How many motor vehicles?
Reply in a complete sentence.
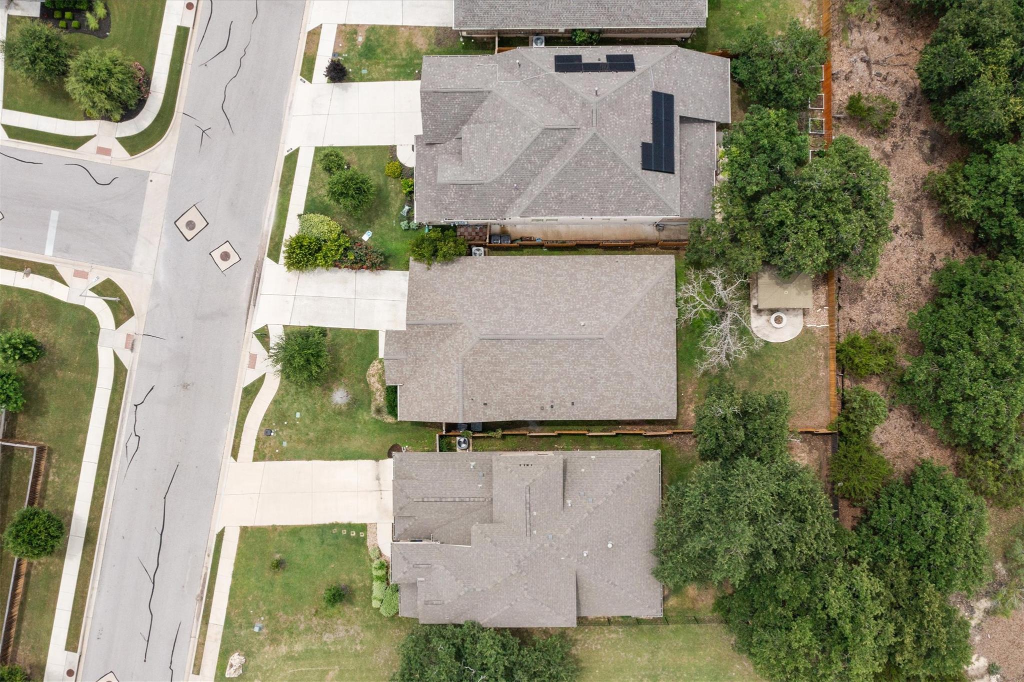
The photo contains no motor vehicles.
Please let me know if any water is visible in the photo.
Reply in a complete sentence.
No, there's no water in this view.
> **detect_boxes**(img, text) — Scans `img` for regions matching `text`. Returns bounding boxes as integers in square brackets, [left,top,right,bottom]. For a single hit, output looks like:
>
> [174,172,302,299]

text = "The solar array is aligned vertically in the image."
[641,90,674,172]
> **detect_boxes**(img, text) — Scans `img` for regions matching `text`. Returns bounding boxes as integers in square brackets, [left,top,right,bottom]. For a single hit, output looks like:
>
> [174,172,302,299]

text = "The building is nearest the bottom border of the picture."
[389,449,664,628]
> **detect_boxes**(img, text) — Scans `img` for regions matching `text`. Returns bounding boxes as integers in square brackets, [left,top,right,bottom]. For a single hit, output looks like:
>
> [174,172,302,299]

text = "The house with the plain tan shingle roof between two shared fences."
[385,254,678,422]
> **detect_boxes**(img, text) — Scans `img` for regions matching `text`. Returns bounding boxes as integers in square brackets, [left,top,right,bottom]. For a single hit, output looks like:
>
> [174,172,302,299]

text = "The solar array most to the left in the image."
[555,54,636,73]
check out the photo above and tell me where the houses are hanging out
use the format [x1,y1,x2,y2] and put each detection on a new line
[389,449,664,628]
[385,254,678,422]
[452,0,709,40]
[415,44,733,225]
